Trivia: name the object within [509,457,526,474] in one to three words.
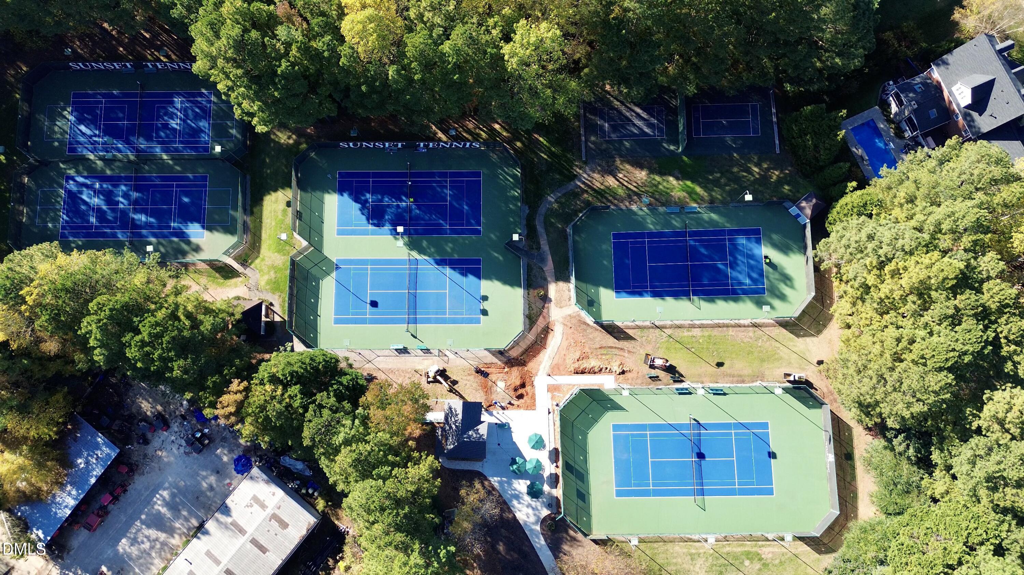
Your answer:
umbrella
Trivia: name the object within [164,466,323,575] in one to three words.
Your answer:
building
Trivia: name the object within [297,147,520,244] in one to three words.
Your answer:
tennis court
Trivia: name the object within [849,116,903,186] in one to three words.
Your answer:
swimming pool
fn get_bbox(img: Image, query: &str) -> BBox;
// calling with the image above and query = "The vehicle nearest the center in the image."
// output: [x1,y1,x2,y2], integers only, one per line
[471,364,493,382]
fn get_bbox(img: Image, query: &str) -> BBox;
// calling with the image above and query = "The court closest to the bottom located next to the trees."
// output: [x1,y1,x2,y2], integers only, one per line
[560,387,830,537]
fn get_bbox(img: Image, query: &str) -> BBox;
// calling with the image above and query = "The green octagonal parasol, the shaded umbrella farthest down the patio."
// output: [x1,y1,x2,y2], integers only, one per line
[527,482,543,499]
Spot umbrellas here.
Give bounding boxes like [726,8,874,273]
[526,457,543,475]
[527,482,543,499]
[509,457,526,474]
[528,433,545,450]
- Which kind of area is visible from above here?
sports ground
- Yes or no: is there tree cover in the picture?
Yes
